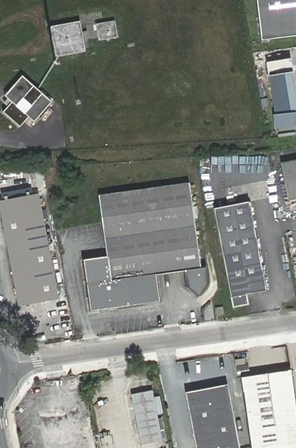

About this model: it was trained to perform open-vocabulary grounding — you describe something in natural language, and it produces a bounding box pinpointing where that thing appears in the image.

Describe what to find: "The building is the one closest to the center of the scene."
[99,182,201,280]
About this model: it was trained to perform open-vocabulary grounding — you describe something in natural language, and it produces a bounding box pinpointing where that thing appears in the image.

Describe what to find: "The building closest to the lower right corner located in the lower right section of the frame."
[242,369,296,448]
